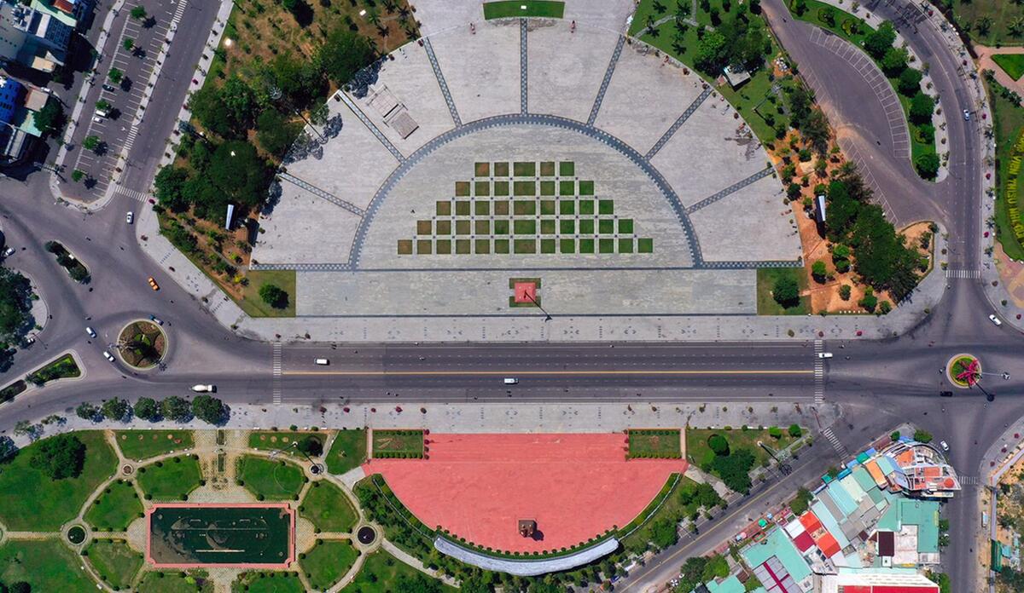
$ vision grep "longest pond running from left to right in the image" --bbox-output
[146,504,295,569]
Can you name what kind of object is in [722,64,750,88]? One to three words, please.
building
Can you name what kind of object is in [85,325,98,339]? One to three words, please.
vehicle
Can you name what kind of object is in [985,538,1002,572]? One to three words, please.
shed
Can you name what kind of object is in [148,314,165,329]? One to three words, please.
vehicle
